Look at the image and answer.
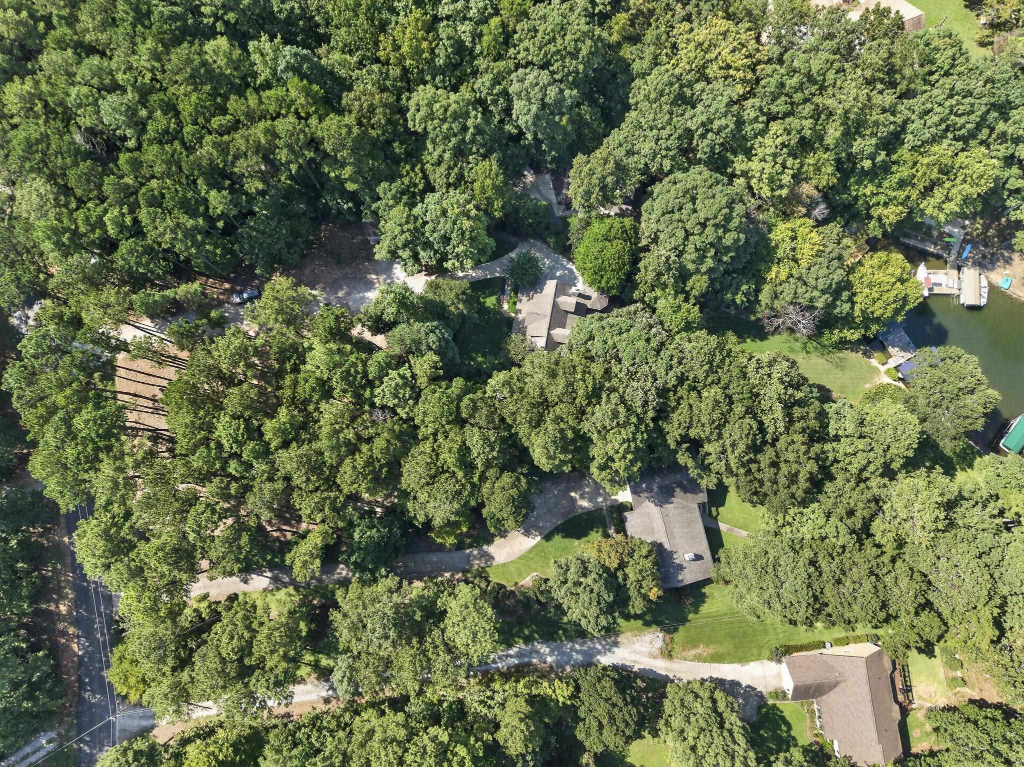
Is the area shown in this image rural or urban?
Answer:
rural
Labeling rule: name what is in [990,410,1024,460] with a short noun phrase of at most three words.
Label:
building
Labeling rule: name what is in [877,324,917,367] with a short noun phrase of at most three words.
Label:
pier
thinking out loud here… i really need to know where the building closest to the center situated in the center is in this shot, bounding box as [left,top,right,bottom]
[509,280,609,355]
